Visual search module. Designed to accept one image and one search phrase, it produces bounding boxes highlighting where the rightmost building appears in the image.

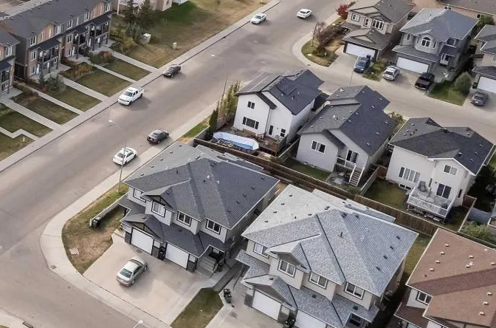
[465,22,496,94]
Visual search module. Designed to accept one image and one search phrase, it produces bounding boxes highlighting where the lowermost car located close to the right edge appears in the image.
[468,88,489,104]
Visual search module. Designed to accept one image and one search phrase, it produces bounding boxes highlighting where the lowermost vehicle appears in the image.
[113,253,151,285]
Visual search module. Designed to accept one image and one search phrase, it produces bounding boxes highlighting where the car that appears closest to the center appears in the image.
[142,126,170,146]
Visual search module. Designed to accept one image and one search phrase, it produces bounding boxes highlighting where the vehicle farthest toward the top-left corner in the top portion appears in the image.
[117,84,148,104]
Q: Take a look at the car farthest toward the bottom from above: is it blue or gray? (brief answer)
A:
gray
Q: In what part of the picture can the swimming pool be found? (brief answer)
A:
center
